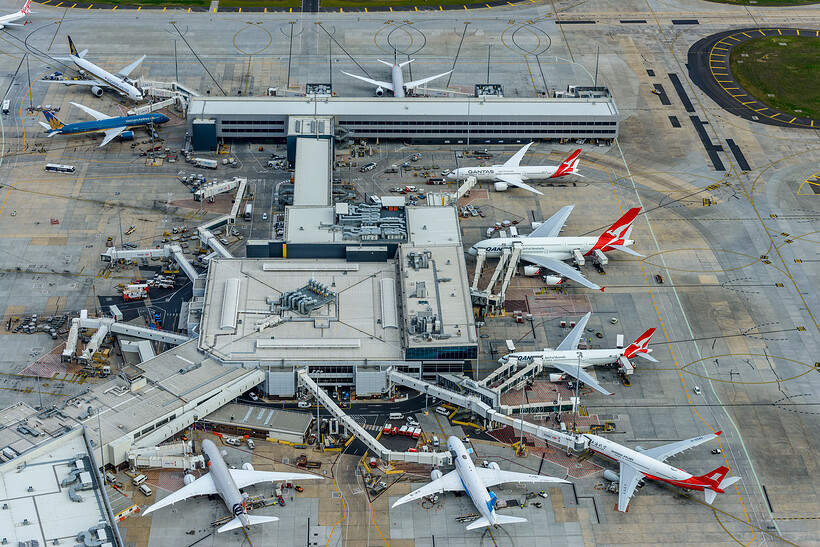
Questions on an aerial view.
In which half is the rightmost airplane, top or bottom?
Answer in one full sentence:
The rightmost airplane sits in the bottom half of the picture.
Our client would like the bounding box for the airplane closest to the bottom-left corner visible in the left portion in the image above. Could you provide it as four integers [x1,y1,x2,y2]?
[144,443,324,536]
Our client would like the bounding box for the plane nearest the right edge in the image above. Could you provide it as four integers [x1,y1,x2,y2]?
[585,432,745,515]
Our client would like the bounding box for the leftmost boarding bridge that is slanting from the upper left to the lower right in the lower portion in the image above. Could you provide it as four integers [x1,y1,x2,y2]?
[299,372,457,477]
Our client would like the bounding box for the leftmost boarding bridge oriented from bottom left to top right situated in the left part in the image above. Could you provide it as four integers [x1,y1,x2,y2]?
[78,321,110,365]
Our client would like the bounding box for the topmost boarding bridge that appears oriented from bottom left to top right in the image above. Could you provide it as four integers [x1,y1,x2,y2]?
[427,175,477,210]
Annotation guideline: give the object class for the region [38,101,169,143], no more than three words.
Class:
airplane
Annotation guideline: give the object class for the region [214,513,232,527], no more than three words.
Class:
work vehicle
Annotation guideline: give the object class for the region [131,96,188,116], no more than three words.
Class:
jet bridge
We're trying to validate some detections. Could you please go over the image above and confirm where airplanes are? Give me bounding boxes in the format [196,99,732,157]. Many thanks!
[0,0,42,33]
[585,432,745,515]
[500,309,661,393]
[144,443,324,536]
[471,200,650,288]
[394,438,572,531]
[38,33,145,101]
[38,101,169,143]
[341,41,453,96]
[448,141,587,193]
